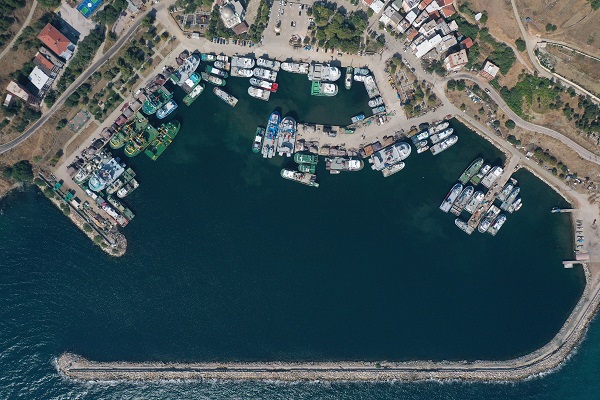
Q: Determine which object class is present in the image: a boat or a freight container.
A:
boat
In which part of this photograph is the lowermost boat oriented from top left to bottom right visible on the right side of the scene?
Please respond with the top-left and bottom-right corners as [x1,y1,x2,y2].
[455,218,474,235]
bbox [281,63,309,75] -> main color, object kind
white boat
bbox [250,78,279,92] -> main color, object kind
white boat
